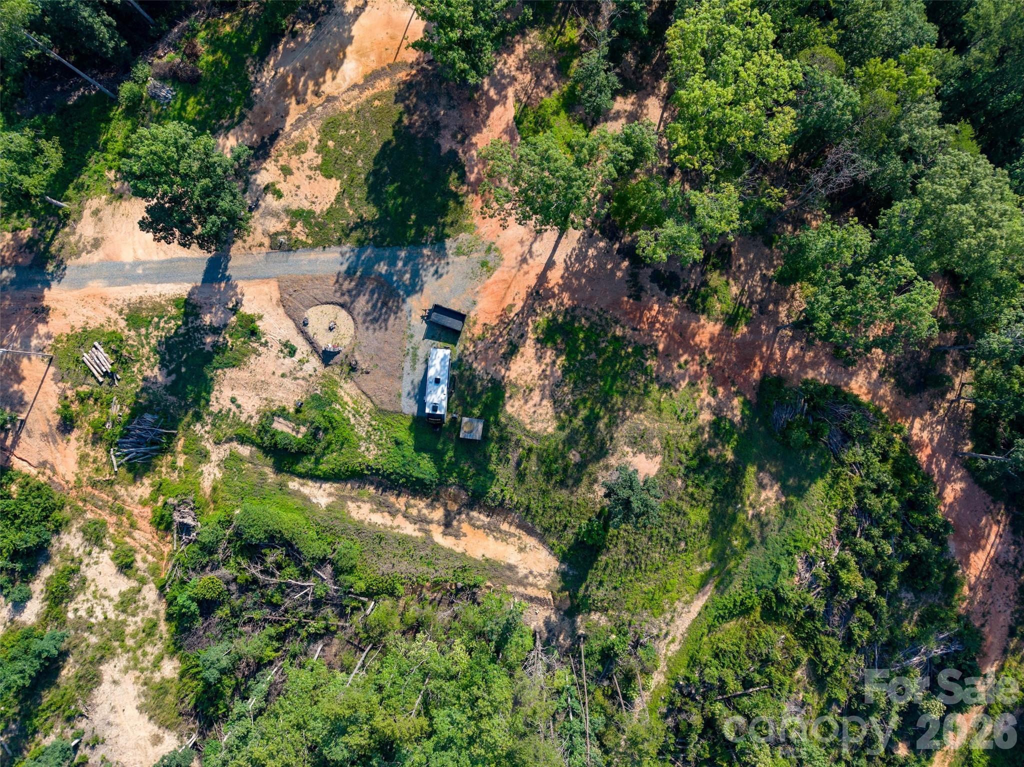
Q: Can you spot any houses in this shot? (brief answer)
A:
No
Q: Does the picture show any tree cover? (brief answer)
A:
Yes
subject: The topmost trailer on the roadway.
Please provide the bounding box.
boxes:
[421,303,467,332]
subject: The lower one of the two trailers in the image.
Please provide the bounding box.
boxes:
[424,344,454,428]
